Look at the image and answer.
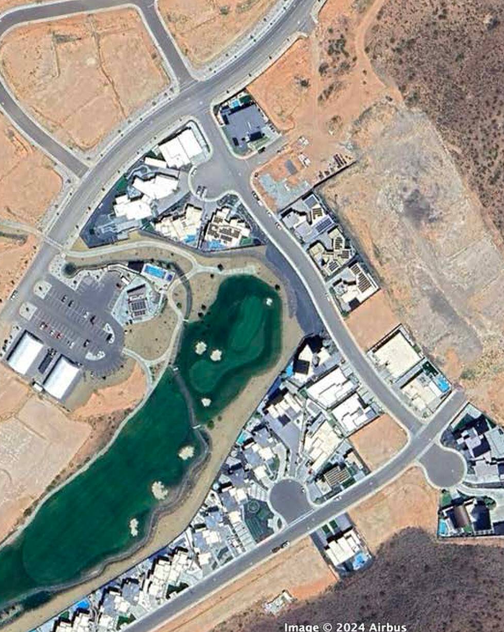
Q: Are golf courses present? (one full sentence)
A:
Yes, a golf course appears in the view.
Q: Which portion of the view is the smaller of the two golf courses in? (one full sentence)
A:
The smaller of the two golf courses is in the center part of the image.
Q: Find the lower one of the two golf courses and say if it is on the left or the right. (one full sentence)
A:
It is on the left.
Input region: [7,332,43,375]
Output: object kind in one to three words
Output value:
building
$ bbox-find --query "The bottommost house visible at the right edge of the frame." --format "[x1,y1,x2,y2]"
[442,500,504,535]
